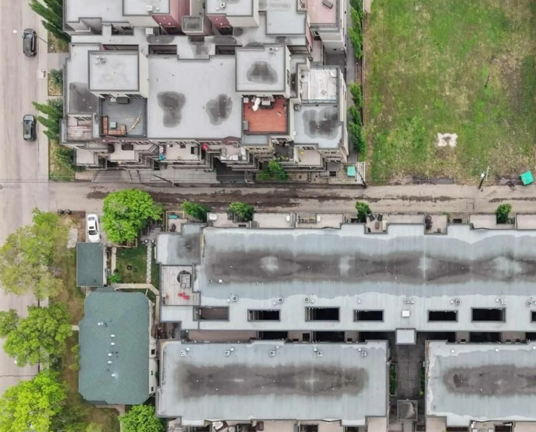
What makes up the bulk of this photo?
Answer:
buildings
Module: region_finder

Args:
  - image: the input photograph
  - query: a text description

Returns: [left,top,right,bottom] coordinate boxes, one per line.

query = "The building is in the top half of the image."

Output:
[64,0,349,173]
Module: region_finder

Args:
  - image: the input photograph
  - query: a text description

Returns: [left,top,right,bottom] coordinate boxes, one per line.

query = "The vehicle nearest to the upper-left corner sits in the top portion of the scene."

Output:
[22,29,38,56]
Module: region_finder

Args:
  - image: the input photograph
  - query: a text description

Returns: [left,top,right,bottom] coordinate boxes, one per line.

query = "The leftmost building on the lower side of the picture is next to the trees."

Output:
[77,243,108,286]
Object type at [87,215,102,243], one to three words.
car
